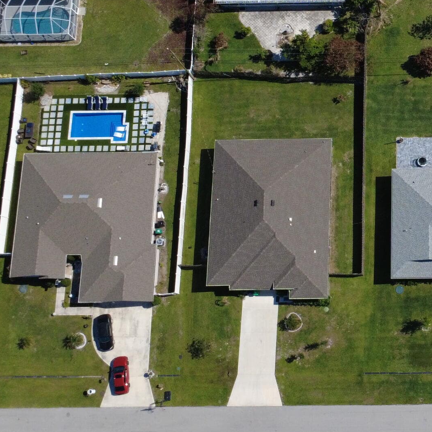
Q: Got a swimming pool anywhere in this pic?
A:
Yes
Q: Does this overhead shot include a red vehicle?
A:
Yes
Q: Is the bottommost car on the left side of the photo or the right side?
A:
left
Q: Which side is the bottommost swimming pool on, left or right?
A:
left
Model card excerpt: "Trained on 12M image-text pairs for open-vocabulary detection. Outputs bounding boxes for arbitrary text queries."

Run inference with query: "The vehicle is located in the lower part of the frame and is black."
[94,314,115,353]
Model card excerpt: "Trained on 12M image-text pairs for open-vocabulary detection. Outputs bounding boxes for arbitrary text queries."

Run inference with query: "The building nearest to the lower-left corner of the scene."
[8,152,161,303]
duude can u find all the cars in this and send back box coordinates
[109,356,130,396]
[94,314,115,353]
